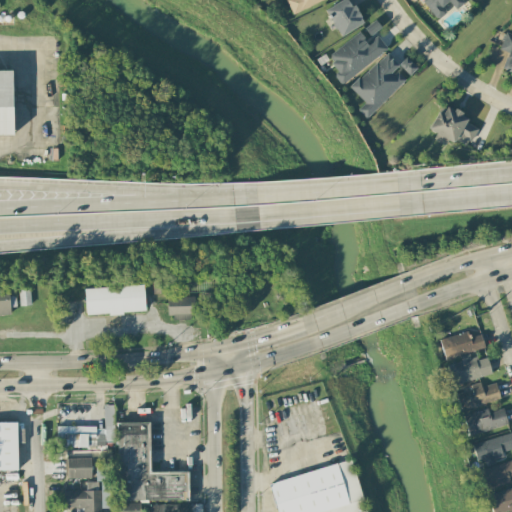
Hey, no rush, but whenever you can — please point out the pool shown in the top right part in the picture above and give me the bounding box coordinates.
[435,10,468,32]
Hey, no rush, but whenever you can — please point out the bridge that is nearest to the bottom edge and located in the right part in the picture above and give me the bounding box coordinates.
[270,278,392,369]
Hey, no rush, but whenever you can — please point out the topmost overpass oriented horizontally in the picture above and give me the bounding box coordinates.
[0,170,421,252]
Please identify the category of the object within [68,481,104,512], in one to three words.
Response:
building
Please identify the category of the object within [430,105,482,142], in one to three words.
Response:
house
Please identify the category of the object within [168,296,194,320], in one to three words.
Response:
house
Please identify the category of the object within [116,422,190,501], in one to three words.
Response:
building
